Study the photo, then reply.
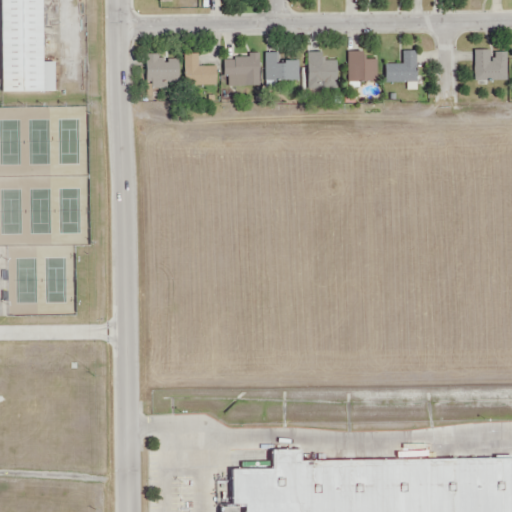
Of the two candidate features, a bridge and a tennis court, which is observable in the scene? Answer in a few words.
tennis court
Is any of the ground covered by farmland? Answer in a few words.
Yes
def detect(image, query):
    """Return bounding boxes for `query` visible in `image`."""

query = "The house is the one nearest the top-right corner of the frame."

[475,48,509,84]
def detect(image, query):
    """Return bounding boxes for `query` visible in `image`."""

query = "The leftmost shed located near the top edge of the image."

[2,0,44,90]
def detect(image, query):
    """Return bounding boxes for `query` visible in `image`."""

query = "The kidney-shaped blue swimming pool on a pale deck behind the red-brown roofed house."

[358,81,381,98]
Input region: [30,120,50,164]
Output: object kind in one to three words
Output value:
tennis court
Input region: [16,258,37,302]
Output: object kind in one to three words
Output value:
tennis court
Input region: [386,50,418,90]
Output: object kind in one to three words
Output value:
house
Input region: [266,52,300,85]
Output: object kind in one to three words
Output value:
house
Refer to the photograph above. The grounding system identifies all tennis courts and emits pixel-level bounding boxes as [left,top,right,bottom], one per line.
[0,120,20,164]
[28,190,52,234]
[1,190,21,234]
[30,120,50,164]
[60,190,80,234]
[44,258,66,302]
[16,258,37,302]
[57,120,81,164]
